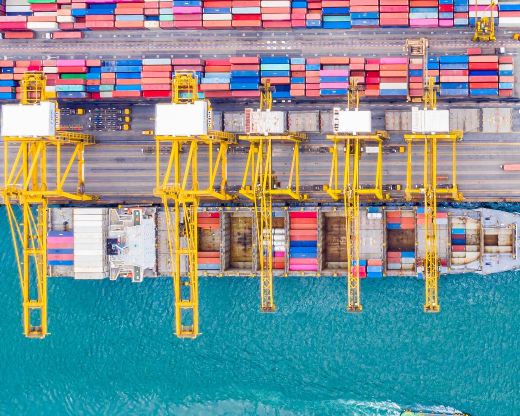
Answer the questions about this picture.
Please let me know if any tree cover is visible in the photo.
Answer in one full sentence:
No, there's no tree cover in this view.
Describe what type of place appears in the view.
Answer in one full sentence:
The area seen from above is a port.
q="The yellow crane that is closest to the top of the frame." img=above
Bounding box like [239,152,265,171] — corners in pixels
[474,0,502,44]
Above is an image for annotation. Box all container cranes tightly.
[402,71,476,313]
[242,71,321,313]
[474,0,502,44]
[328,71,402,313]
[2,71,100,338]
[156,71,244,338]
[407,40,436,107]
